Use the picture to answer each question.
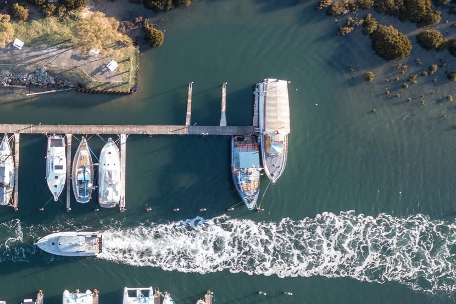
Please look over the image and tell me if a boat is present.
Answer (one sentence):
Yes, a boat appears in the view.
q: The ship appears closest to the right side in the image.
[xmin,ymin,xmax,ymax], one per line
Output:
[257,78,293,181]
